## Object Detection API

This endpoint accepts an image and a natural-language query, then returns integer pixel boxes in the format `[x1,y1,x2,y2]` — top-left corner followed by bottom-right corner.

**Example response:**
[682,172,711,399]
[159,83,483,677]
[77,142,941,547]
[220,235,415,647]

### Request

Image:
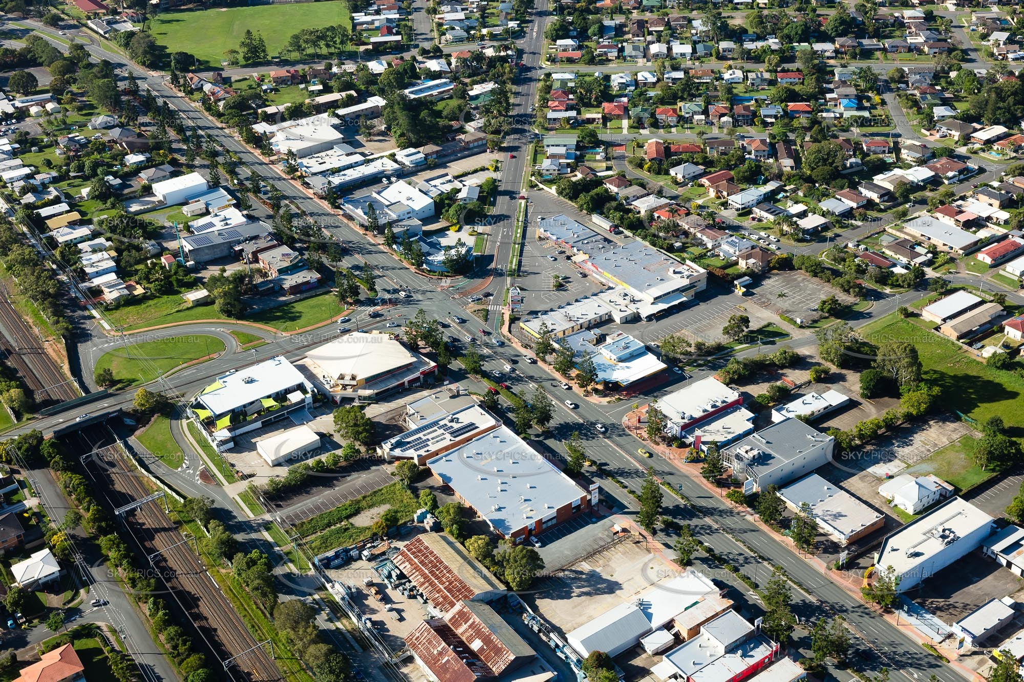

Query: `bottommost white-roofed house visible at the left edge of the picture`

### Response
[11,553,61,595]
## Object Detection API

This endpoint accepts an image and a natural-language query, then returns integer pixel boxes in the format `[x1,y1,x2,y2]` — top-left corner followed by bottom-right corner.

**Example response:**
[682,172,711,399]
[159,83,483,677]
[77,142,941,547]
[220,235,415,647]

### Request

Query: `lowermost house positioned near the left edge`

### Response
[12,648,84,682]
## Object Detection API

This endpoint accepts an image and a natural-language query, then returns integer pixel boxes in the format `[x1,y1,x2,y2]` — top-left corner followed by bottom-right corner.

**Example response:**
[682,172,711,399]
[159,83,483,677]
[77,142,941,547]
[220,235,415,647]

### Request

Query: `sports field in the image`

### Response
[148,0,356,65]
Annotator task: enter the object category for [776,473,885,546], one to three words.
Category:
building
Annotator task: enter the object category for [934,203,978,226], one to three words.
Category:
house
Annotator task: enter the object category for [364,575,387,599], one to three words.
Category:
truck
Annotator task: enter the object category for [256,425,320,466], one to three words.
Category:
shed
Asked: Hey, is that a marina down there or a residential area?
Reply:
residential area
